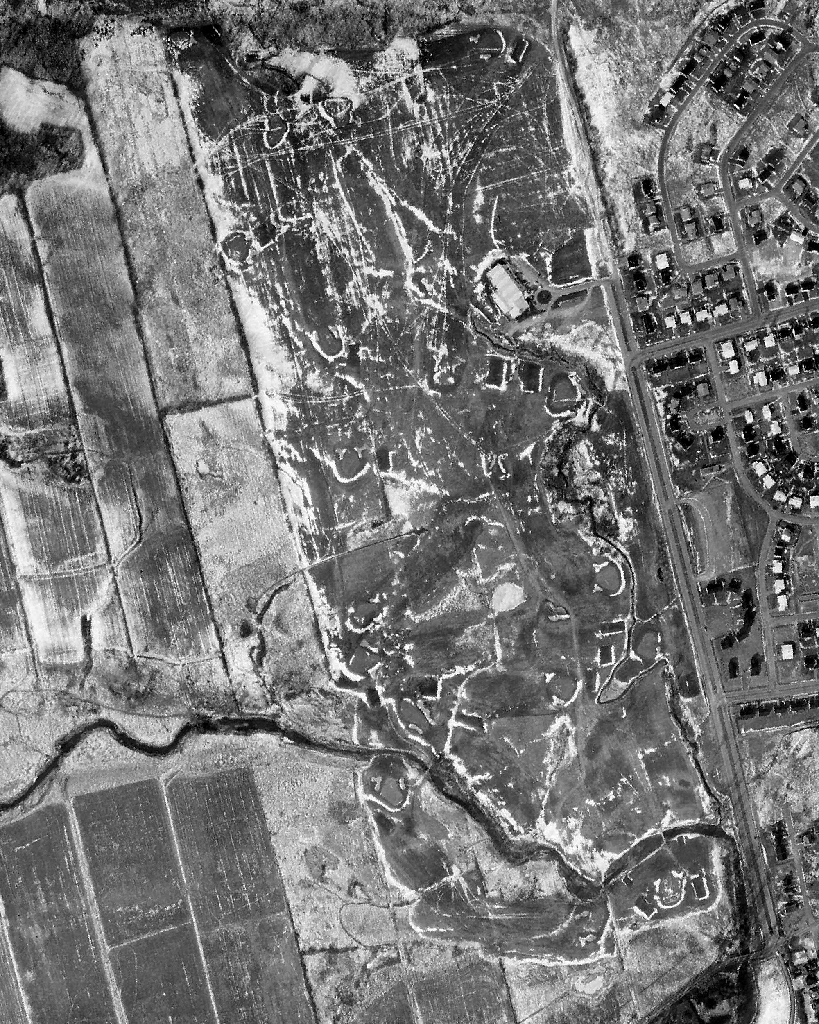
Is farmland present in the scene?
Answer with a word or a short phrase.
Yes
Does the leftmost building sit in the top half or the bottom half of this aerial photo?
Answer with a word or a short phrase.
top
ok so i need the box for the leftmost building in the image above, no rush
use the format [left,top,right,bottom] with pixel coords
[487,264,530,317]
